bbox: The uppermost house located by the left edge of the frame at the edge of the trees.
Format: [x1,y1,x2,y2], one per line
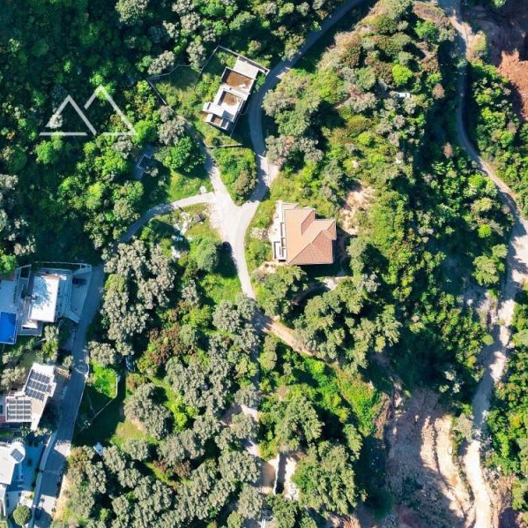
[0,263,90,345]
